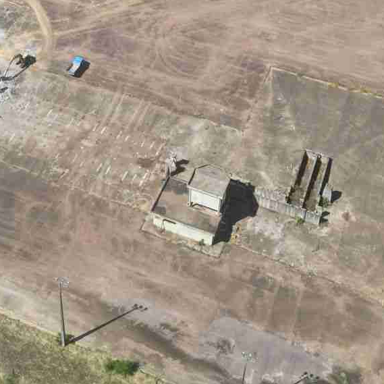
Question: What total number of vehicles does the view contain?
2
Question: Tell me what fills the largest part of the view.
paved ground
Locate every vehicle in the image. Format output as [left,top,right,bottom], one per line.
[3,49,40,76]
[65,52,89,77]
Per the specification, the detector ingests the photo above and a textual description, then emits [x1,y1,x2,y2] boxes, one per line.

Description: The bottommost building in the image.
[151,164,231,244]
